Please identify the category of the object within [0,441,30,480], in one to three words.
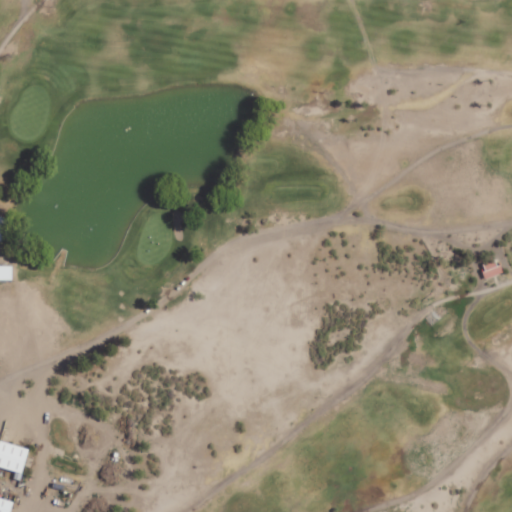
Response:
building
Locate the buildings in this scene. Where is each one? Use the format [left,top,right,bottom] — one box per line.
[0,441,30,480]
[482,260,505,281]
[0,265,12,282]
[0,498,14,512]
